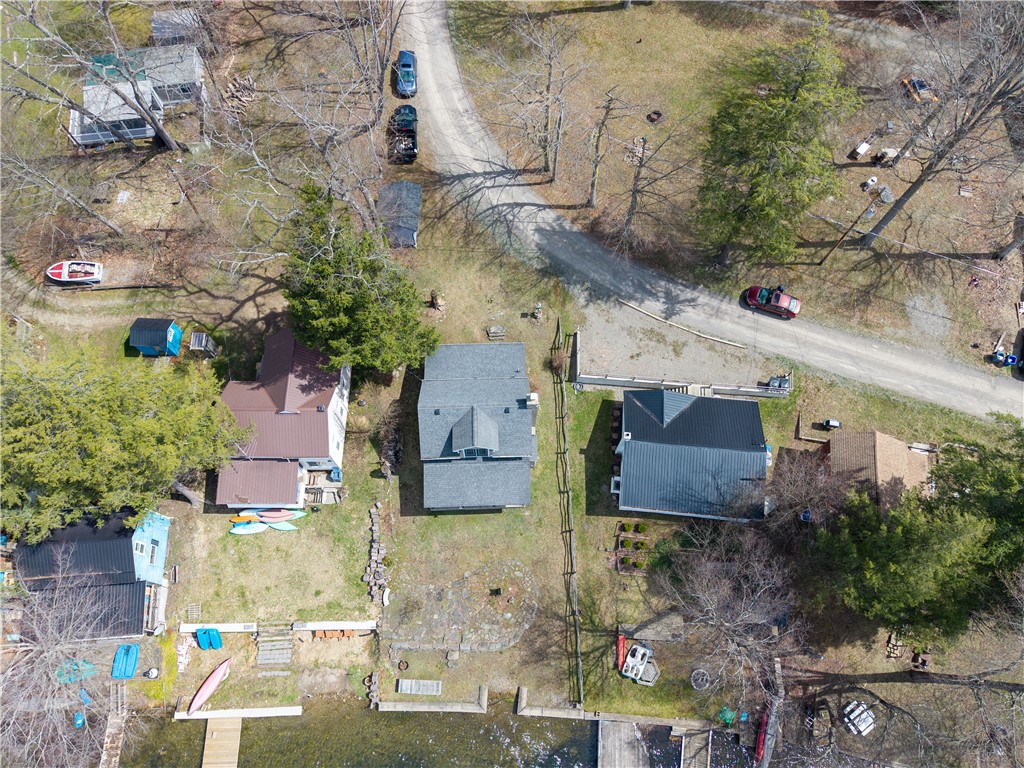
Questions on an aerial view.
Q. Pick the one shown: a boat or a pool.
boat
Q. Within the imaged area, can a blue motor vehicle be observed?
Yes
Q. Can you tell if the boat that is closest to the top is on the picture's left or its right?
left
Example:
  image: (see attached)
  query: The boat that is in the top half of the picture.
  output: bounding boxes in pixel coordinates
[42,257,102,281]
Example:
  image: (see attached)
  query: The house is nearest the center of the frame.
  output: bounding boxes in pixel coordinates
[418,344,539,511]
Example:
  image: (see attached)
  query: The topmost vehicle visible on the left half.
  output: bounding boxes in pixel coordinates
[391,48,416,90]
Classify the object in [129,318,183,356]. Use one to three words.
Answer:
shed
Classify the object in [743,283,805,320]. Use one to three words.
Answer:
car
